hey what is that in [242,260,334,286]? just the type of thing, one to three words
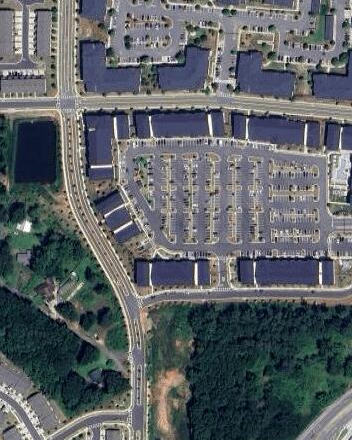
building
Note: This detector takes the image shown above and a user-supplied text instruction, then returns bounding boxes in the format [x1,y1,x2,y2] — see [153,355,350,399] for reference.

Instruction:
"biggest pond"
[16,121,59,183]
